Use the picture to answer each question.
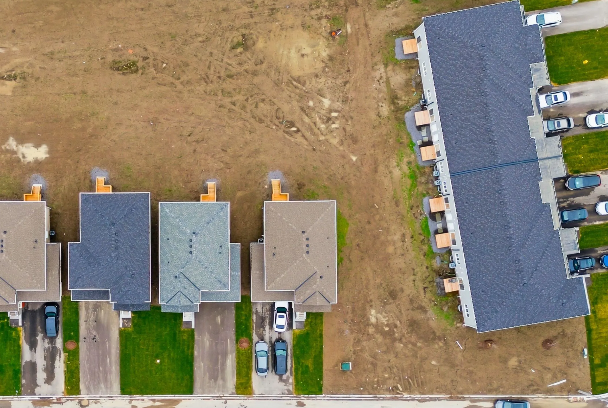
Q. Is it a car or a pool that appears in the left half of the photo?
car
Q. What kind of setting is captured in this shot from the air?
residential area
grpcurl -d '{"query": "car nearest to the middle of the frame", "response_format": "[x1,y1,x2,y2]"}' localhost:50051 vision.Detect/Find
[273,302,289,334]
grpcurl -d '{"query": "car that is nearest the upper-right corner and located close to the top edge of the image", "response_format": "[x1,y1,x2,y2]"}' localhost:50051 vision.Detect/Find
[526,10,563,27]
